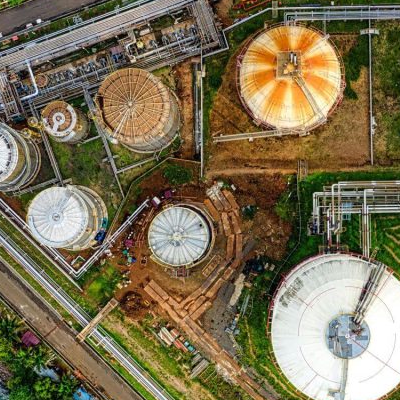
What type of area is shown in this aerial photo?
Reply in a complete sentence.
The picture captures an industrial area.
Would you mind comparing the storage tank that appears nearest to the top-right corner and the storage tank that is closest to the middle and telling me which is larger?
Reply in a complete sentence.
The storage tank that is closest to the middle is smaller than the storage tank that appears nearest to the top-right corner.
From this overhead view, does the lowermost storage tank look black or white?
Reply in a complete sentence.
The lowermost storage tank looks white in the image.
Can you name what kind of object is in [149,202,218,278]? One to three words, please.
storage tank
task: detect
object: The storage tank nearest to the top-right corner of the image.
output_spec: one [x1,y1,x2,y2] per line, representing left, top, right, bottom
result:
[212,23,346,141]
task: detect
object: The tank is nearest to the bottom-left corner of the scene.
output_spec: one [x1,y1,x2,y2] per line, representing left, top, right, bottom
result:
[25,184,108,252]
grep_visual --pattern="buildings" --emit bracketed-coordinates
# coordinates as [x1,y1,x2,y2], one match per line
[21,330,43,347]
[75,386,97,400]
